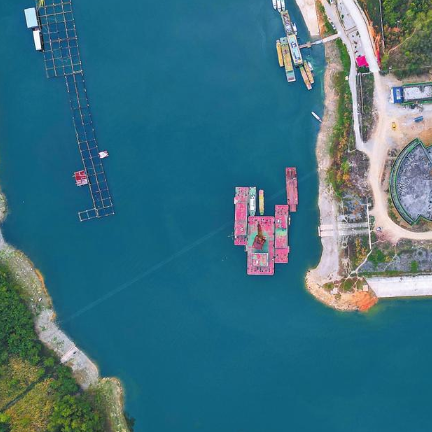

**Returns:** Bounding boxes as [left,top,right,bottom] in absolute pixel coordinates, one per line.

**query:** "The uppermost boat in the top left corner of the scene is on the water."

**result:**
[25,8,42,31]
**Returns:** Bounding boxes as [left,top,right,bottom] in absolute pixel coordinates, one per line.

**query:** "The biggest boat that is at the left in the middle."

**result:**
[75,170,90,185]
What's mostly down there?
water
